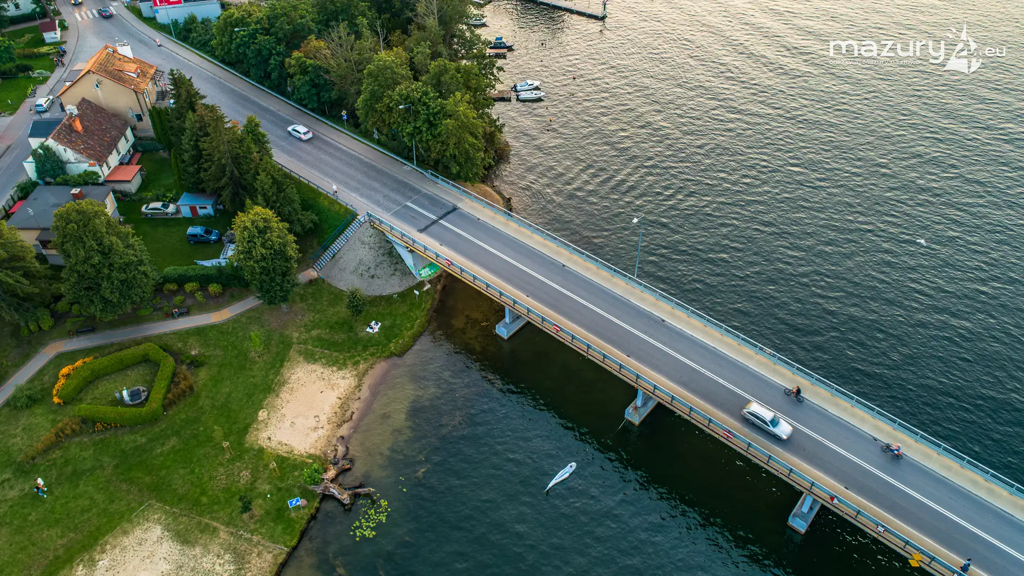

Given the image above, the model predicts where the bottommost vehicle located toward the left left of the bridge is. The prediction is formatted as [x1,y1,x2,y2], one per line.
[183,224,219,242]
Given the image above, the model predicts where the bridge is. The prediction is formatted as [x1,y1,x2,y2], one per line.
[368,168,1024,576]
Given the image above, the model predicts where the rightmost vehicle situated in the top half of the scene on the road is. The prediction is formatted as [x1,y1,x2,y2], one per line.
[281,123,310,141]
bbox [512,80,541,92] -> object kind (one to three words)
boat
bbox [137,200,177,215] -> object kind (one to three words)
car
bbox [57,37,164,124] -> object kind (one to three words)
house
